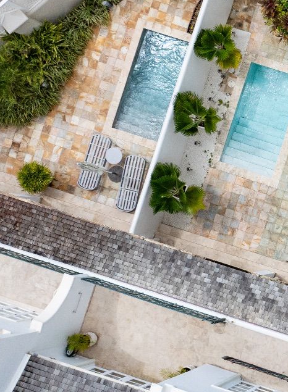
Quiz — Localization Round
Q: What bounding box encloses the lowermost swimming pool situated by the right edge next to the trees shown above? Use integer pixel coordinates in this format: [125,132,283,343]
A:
[206,49,288,192]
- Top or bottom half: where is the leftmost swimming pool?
top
